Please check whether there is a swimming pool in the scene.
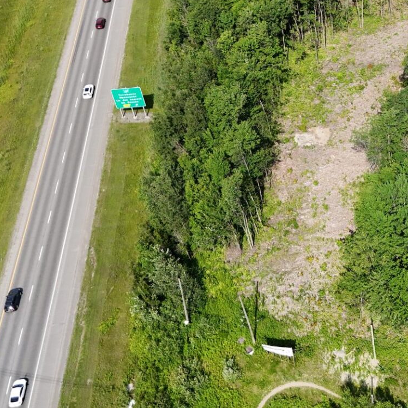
No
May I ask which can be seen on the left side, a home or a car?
car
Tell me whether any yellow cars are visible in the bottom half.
No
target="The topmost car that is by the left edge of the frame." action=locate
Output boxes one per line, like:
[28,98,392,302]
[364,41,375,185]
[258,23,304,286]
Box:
[3,286,22,312]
